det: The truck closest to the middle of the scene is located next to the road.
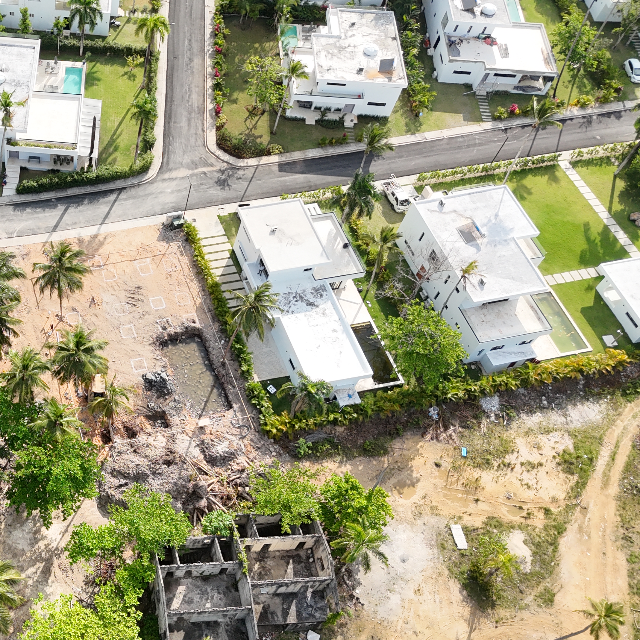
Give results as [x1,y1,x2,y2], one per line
[383,174,413,211]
